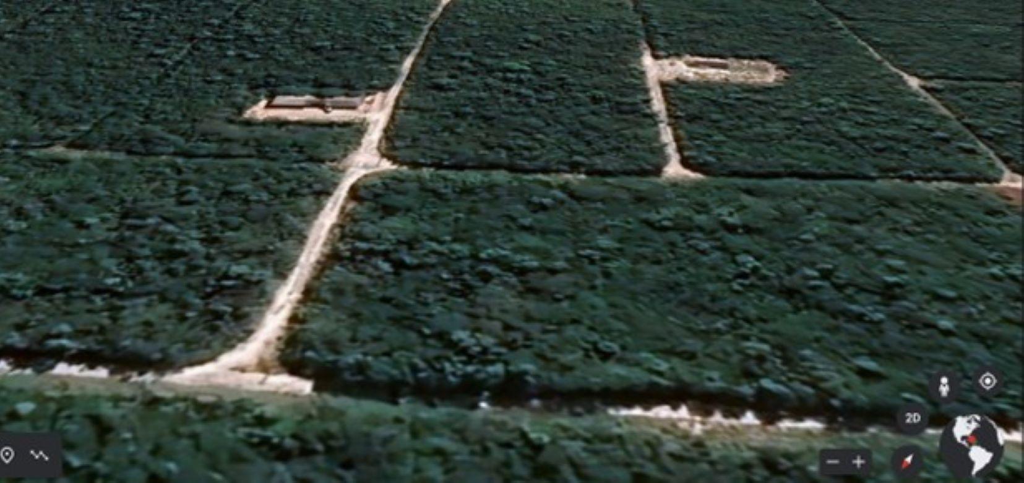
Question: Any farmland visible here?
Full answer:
No, the scene doesn't show any farmland.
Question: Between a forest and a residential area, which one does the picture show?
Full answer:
This looks like a forest.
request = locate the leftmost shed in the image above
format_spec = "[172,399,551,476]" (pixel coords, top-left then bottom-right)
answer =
[268,95,329,110]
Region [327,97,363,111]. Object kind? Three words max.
shed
